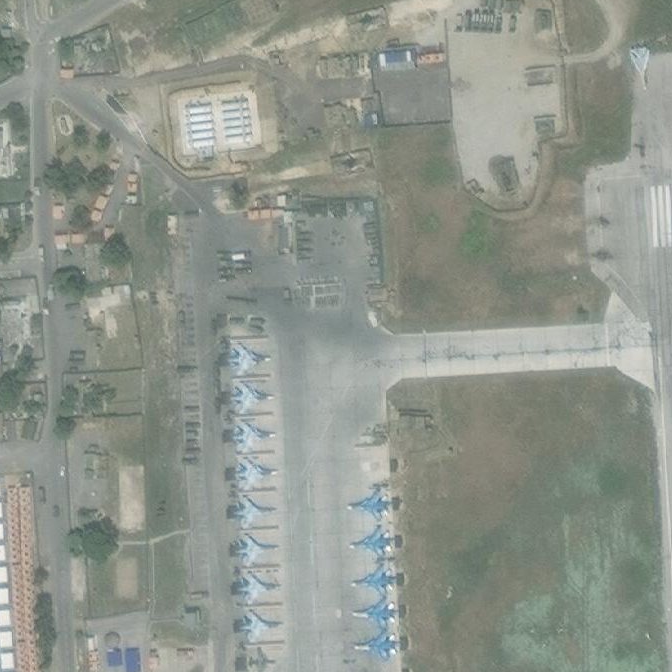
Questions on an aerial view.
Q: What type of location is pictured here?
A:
airport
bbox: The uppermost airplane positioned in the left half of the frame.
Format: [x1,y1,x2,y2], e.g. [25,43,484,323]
[226,347,272,376]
